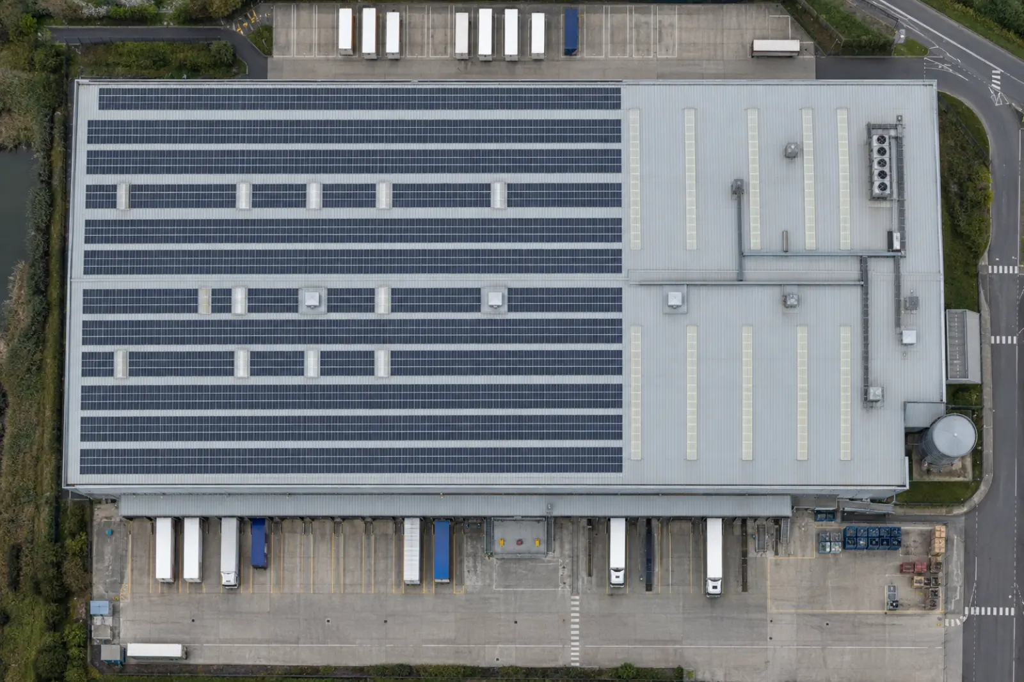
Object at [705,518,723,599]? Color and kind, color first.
white vehicle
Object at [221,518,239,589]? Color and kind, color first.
white vehicle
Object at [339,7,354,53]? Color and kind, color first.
white trailer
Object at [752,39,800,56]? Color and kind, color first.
white trailer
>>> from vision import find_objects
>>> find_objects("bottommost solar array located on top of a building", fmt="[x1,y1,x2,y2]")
[80,449,622,474]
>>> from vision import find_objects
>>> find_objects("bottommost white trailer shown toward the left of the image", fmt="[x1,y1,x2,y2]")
[127,644,189,659]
